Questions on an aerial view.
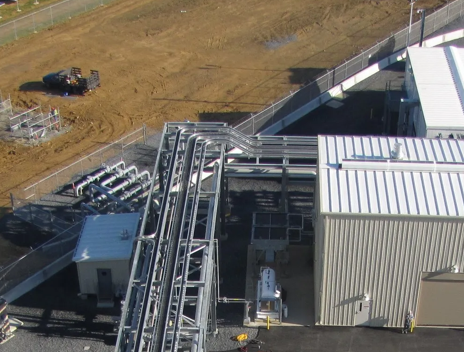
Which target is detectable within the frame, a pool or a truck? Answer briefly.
truck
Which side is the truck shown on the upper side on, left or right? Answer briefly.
left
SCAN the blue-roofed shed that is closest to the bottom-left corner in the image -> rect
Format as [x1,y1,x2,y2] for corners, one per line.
[71,216,138,306]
